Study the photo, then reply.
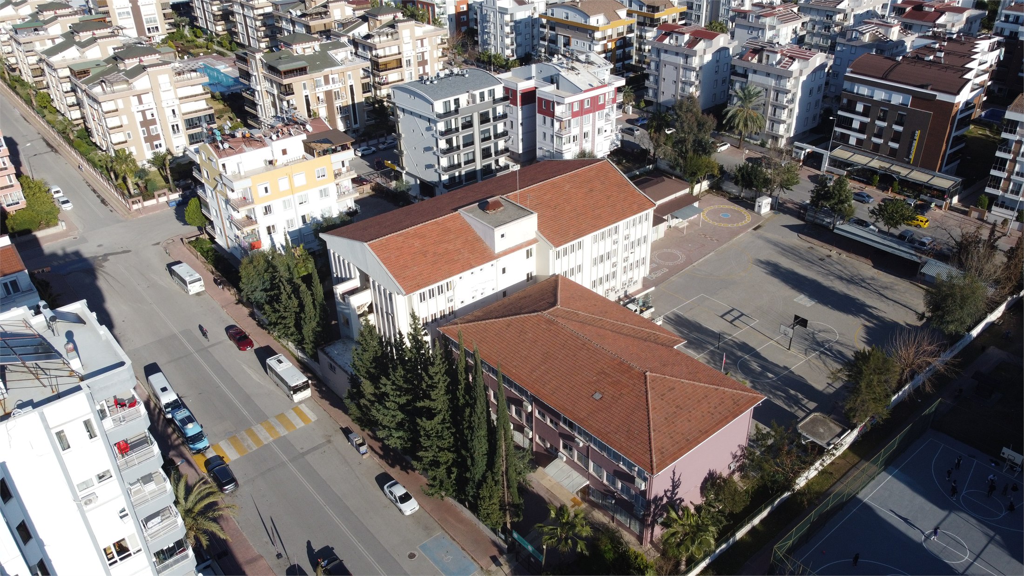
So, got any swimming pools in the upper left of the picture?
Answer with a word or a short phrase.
Yes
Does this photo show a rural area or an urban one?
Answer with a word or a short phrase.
urban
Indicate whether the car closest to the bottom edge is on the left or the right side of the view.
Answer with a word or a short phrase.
left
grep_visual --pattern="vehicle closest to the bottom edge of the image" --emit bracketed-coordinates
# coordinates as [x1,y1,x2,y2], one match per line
[321,556,356,576]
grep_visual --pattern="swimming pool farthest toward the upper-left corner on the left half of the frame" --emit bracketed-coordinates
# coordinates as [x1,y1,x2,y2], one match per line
[189,66,244,92]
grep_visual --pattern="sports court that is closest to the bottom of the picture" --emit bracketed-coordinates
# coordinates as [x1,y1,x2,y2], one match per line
[773,428,1024,576]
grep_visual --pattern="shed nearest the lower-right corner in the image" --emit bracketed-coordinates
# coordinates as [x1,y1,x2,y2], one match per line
[796,411,852,465]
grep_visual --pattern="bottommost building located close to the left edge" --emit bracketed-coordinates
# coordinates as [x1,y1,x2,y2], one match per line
[0,298,203,576]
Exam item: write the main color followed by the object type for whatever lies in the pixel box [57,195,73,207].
white vehicle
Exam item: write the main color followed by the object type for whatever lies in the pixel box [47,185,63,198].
white vehicle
